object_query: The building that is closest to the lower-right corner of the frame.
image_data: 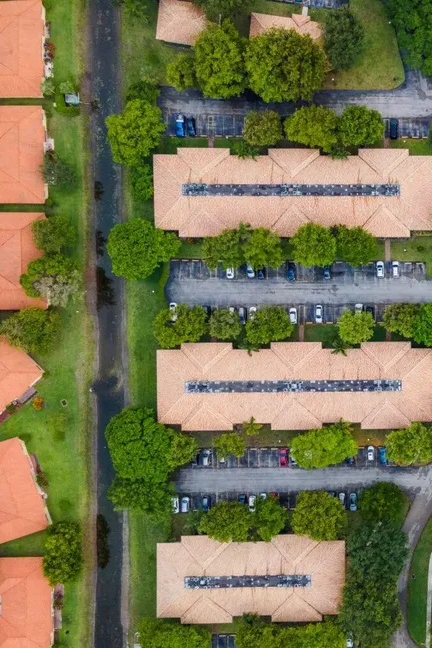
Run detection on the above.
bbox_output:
[156,534,347,624]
